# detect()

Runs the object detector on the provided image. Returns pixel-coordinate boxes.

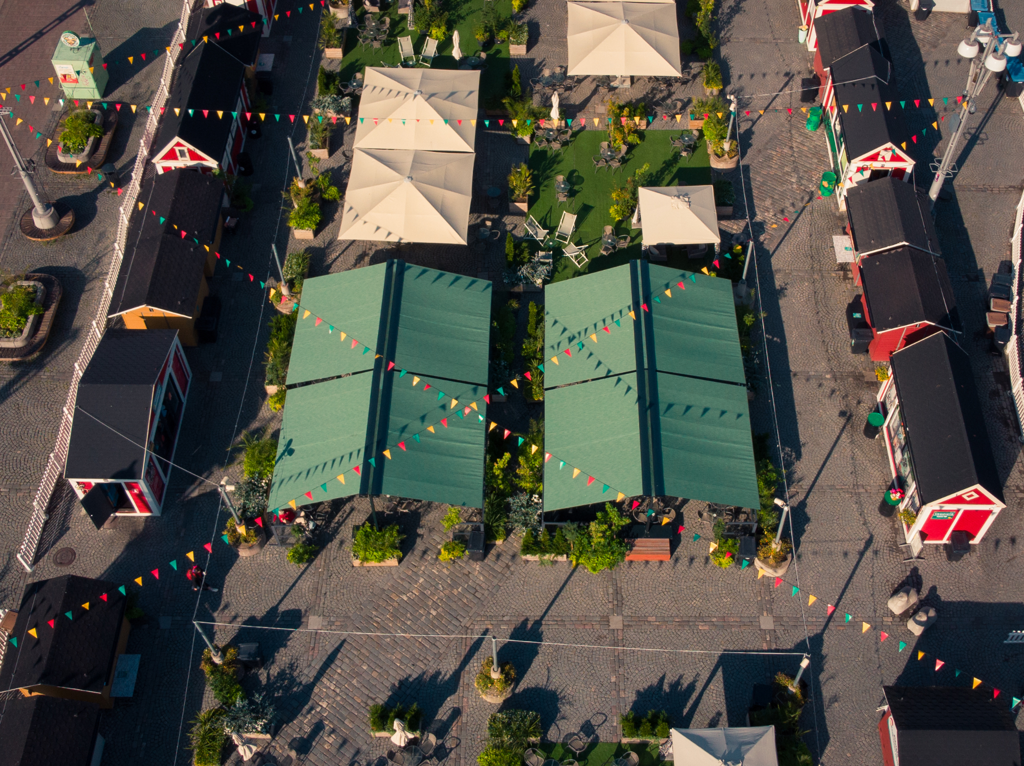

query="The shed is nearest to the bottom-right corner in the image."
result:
[873,684,1024,766]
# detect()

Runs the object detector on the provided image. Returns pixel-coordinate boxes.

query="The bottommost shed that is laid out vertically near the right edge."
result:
[876,331,1009,544]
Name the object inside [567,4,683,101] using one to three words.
umbrella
